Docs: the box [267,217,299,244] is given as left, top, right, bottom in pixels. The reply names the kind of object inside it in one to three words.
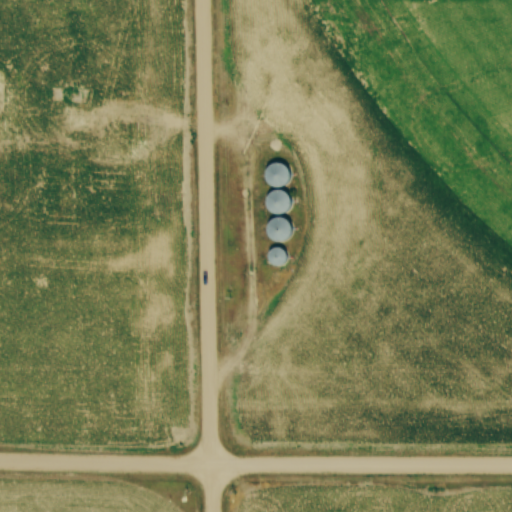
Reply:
silo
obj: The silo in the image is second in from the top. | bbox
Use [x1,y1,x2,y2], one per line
[266,189,298,216]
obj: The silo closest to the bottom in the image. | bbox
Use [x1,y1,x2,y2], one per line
[268,246,296,268]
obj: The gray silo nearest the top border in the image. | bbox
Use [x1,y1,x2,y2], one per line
[265,162,298,189]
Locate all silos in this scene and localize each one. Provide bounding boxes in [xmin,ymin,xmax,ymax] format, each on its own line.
[267,217,299,244]
[266,189,298,216]
[265,162,298,189]
[268,246,296,268]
